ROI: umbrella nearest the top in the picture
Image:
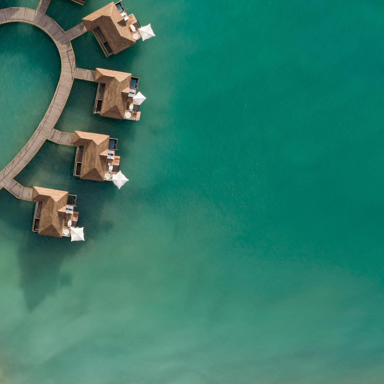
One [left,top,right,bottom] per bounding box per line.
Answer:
[138,24,155,41]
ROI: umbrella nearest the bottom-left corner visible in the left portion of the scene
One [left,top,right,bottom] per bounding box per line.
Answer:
[70,228,85,242]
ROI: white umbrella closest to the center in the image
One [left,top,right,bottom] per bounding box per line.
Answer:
[111,172,129,190]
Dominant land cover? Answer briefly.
water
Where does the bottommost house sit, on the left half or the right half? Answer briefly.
left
